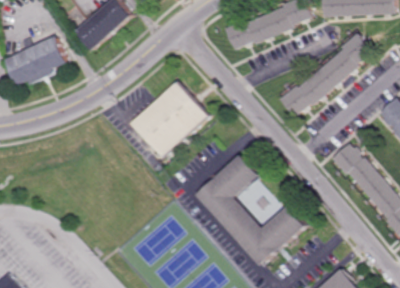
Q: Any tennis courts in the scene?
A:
Yes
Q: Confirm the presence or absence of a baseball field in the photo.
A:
No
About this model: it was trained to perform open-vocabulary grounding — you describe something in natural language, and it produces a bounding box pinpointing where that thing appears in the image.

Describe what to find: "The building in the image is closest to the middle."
[128,83,208,158]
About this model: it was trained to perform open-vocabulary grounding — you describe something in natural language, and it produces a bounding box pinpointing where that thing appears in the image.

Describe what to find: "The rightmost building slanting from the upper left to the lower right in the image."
[334,143,400,237]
